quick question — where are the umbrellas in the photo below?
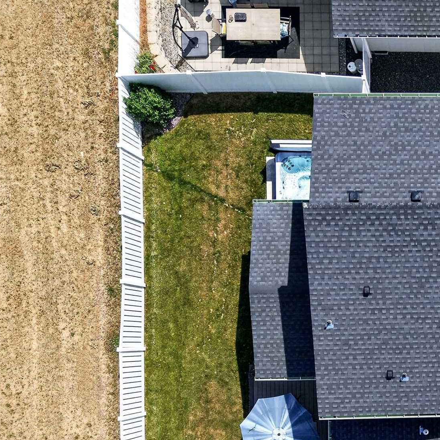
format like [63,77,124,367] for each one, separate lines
[240,393,320,440]
[173,2,210,59]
